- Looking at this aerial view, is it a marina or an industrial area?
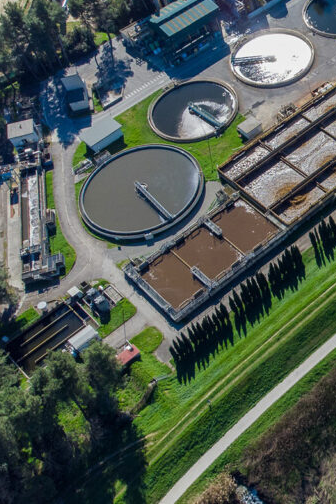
industrial area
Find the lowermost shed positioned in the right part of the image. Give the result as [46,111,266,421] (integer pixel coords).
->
[237,116,263,140]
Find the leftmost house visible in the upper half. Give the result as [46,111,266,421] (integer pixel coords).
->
[7,119,38,147]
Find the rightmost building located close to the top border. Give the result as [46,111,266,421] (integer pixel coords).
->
[149,0,223,57]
